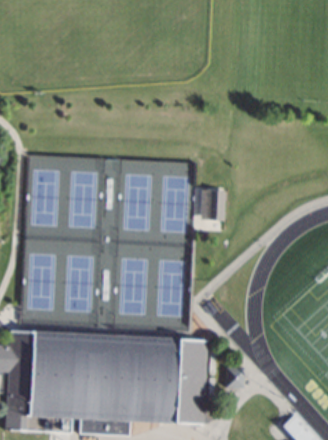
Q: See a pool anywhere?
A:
No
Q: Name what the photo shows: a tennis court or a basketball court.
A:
tennis court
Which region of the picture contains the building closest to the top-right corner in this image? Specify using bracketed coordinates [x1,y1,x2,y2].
[194,188,226,232]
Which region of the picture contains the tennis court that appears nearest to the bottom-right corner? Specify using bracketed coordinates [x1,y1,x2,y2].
[156,260,185,318]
